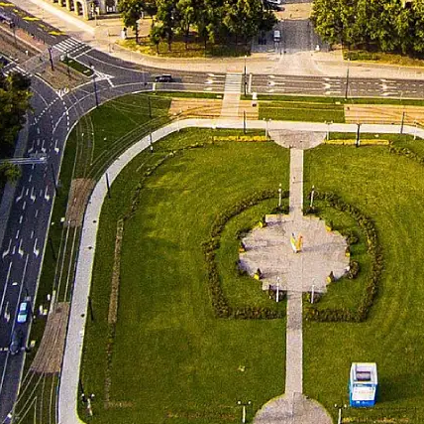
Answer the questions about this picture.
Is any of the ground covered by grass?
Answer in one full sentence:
Yes, grass shows up in the scene.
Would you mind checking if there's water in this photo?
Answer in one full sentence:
No, the picture contains no water.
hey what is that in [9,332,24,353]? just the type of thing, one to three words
car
